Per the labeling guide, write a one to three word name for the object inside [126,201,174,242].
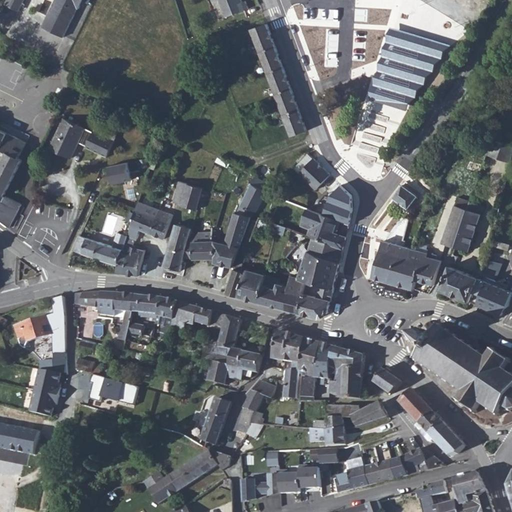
house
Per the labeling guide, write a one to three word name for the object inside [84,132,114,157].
shed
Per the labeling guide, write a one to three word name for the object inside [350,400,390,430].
building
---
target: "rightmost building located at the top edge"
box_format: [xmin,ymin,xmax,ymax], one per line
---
[368,22,452,110]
